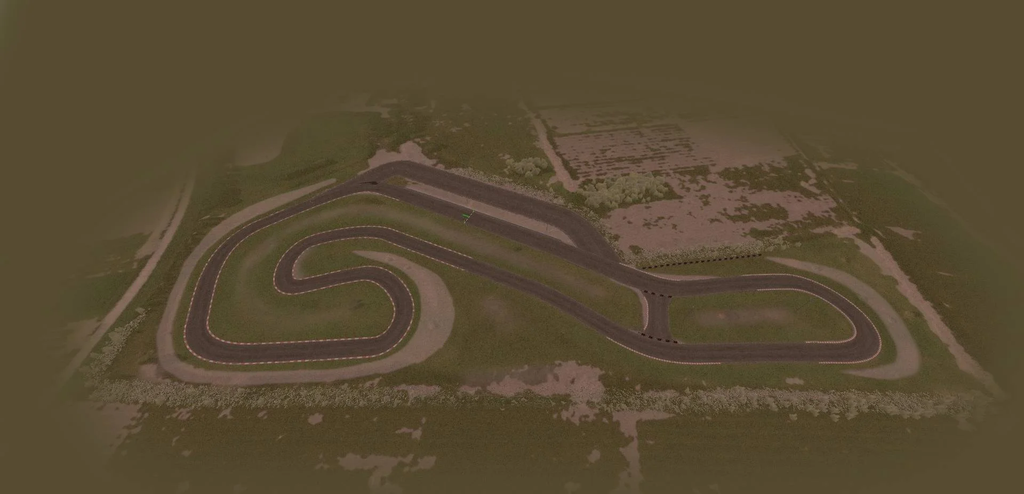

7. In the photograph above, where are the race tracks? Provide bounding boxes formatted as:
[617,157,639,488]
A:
[186,182,880,364]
